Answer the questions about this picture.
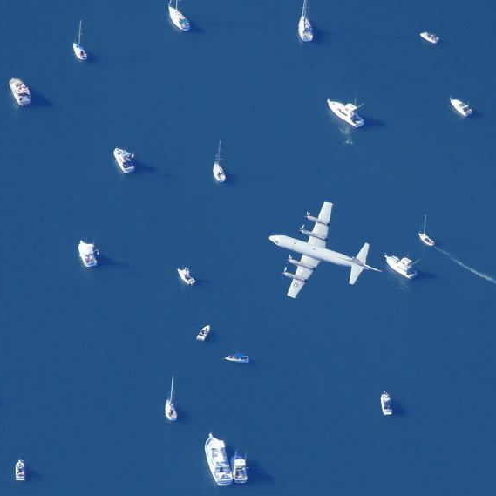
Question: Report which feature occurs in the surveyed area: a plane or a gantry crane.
plane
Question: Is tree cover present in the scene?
No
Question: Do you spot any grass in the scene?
No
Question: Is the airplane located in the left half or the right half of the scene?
right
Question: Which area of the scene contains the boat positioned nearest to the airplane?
right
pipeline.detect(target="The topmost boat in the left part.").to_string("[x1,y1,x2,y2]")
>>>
[169,0,191,32]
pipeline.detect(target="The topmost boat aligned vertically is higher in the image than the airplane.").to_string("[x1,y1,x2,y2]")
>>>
[299,0,313,42]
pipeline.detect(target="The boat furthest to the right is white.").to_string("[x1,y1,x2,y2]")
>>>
[450,99,472,118]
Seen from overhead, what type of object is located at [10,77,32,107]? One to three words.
boat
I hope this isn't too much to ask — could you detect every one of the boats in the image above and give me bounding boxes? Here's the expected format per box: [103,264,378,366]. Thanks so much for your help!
[206,434,233,488]
[226,354,251,363]
[382,393,393,417]
[10,77,32,107]
[79,239,100,268]
[420,34,441,44]
[326,96,366,129]
[385,254,418,280]
[114,148,136,175]
[169,0,191,32]
[165,376,178,421]
[196,326,211,342]
[419,217,436,246]
[227,453,253,486]
[74,36,88,60]
[15,460,25,483]
[178,268,196,285]
[450,99,472,118]
[299,0,313,42]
